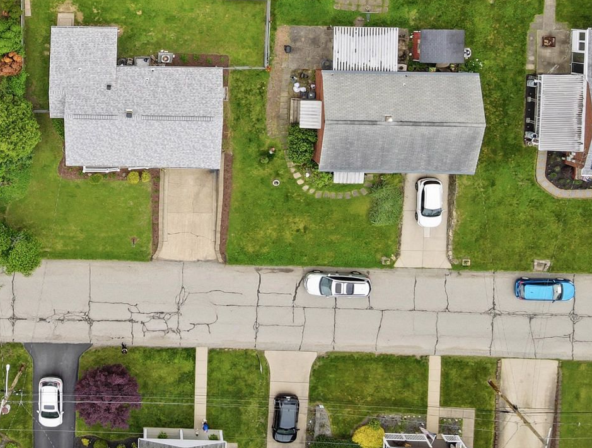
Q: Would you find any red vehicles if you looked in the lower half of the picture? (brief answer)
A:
No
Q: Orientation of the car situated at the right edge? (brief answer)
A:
horizontally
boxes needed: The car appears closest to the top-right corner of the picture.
[417,177,447,227]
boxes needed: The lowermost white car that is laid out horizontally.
[302,271,371,302]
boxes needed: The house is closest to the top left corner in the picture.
[48,26,226,173]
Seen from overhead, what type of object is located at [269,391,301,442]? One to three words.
car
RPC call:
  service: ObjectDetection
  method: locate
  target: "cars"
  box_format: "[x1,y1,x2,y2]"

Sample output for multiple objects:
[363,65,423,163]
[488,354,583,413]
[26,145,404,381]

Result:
[269,391,301,442]
[35,375,64,428]
[417,177,447,227]
[302,271,371,302]
[514,276,574,306]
